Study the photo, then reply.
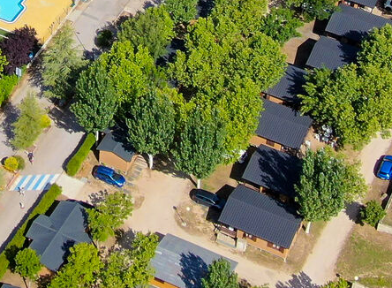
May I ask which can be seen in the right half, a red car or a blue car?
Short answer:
blue car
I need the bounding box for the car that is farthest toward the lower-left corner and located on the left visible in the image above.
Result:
[91,159,128,184]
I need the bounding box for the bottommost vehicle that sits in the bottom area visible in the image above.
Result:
[188,182,225,207]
